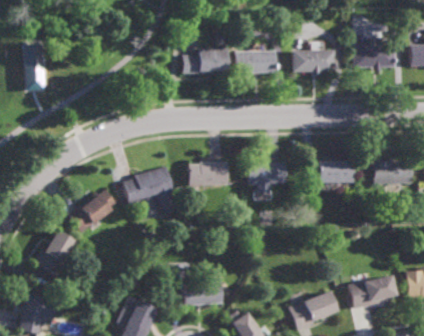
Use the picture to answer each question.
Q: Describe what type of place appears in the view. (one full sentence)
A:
The picture captures a residential area.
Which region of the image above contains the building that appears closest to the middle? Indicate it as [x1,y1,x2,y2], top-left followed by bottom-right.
[189,162,229,189]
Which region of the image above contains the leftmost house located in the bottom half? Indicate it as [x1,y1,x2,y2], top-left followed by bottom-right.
[8,300,44,334]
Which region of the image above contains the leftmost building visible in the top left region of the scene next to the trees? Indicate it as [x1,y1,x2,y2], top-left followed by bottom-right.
[23,44,47,91]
